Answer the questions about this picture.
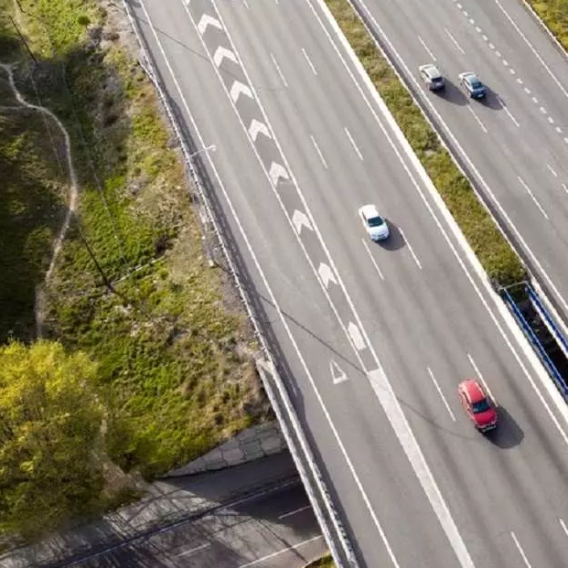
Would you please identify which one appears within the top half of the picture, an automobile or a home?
automobile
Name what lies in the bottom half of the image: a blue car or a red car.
red car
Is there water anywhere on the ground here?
No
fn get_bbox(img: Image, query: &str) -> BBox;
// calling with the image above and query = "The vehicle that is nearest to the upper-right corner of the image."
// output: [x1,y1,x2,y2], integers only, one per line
[459,74,487,101]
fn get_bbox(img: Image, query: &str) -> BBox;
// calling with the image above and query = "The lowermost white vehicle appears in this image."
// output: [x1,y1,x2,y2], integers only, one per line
[358,206,389,240]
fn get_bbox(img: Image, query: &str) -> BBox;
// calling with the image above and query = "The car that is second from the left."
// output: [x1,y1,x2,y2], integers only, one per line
[419,65,446,93]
